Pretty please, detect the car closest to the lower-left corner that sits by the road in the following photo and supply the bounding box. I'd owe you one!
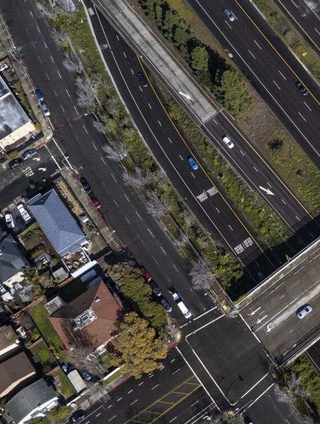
[68,409,87,424]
